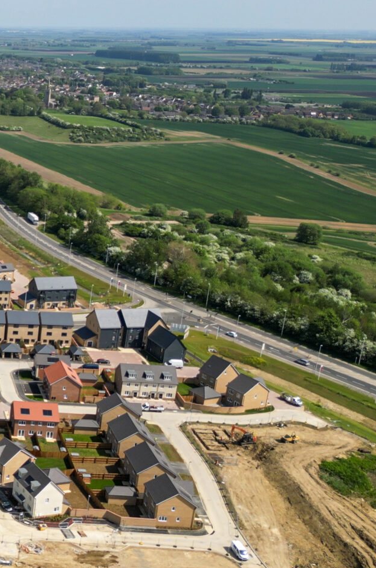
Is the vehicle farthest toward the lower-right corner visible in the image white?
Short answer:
Yes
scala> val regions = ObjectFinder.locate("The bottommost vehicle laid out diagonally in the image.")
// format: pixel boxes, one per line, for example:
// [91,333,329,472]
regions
[229,534,253,557]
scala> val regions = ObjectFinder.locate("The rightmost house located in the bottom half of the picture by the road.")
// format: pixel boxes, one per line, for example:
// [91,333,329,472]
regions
[225,363,272,406]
